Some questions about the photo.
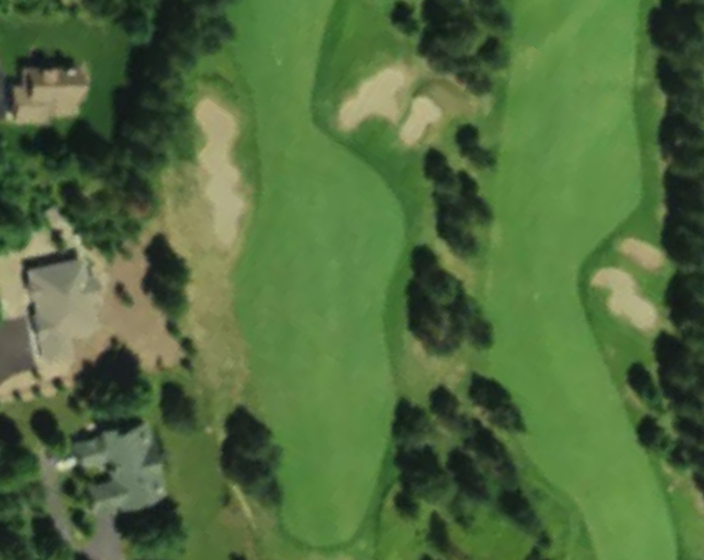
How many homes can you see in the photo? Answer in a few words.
3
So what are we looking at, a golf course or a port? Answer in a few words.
golf course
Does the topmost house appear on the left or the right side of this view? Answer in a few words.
left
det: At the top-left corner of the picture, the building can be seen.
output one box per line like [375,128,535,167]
[13,68,88,123]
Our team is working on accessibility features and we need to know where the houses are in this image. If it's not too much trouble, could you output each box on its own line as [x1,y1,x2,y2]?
[71,421,168,516]
[25,262,105,364]
[13,68,88,123]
